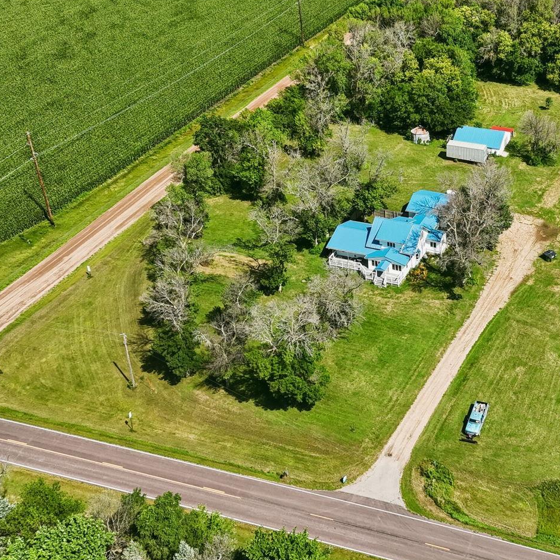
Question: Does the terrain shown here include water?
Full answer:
No, there is no water in the image.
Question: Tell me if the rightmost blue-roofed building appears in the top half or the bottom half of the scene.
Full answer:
The top half of the photo is where the rightmost blue-roofed building is.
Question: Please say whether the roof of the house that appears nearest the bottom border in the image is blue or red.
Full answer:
From above, the roof of the house that appears nearest the bottom border appears blue.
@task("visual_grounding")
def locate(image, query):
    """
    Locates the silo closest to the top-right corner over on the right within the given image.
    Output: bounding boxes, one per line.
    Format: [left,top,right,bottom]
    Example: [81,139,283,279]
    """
[412,125,433,147]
